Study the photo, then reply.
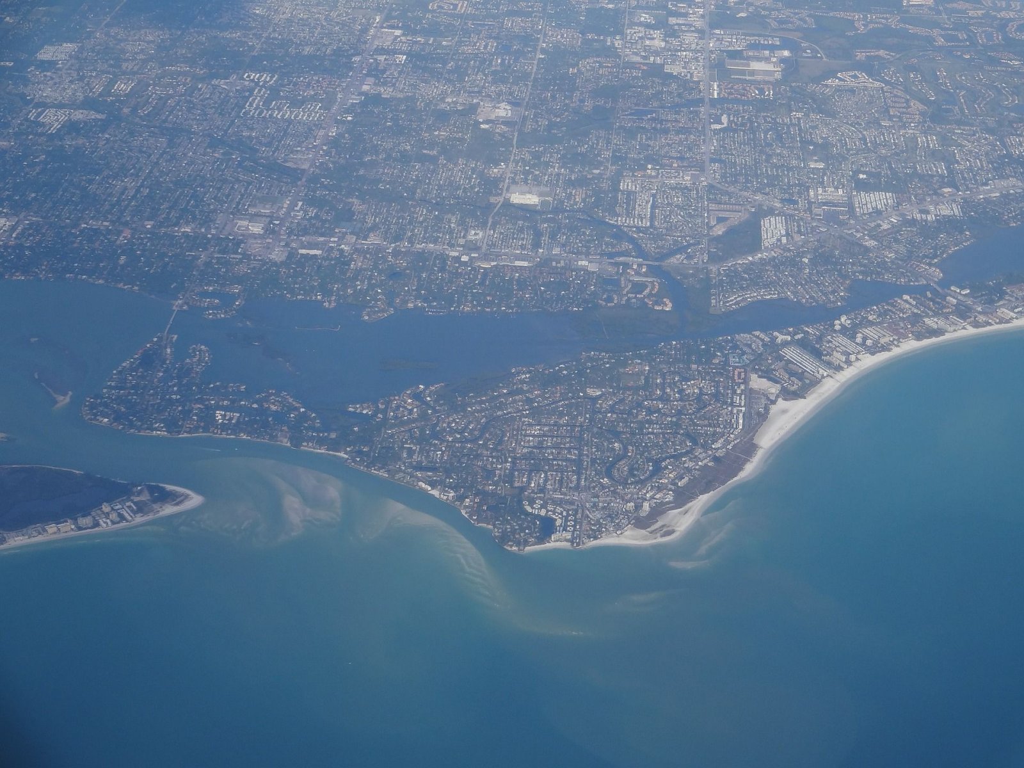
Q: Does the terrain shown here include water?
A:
Yes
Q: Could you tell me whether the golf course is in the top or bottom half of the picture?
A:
top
